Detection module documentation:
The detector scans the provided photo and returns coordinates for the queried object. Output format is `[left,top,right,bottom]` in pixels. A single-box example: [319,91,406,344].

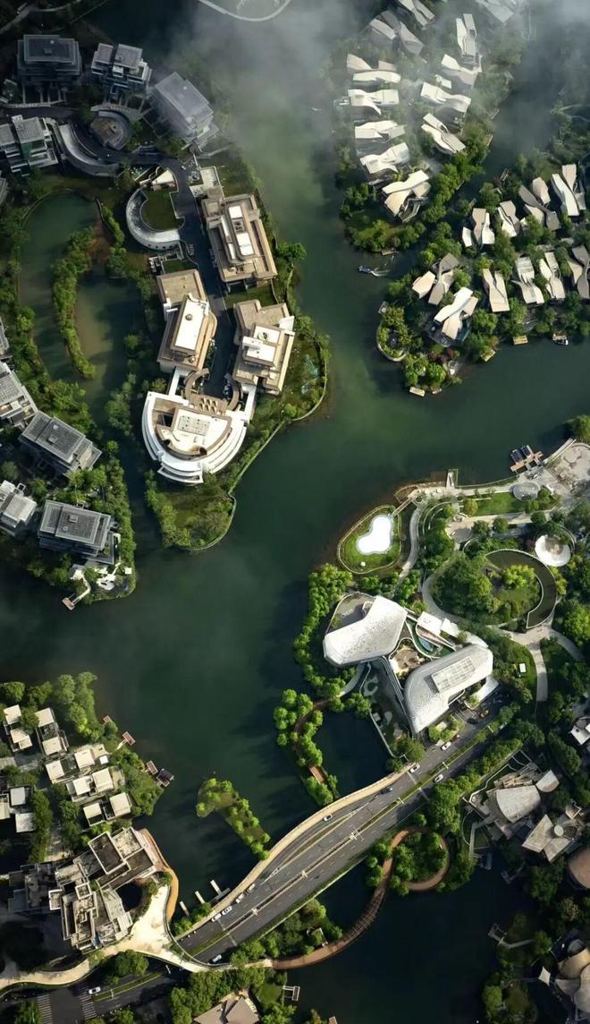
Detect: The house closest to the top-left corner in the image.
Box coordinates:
[19,35,83,112]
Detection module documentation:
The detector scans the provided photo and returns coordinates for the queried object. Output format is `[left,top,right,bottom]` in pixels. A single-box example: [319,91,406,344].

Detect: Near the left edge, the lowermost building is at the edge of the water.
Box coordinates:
[9,823,165,951]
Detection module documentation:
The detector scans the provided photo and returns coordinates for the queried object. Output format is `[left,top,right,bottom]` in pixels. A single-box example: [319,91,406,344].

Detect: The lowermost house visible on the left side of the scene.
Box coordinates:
[193,991,260,1024]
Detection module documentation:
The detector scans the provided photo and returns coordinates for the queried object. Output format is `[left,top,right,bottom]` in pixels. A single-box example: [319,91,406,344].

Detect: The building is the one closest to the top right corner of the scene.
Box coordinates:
[472,0,528,32]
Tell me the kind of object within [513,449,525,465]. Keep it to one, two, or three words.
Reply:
boat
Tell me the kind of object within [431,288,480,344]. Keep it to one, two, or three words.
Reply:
house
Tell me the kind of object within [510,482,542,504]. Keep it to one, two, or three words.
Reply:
building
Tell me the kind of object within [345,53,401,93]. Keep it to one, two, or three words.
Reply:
house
